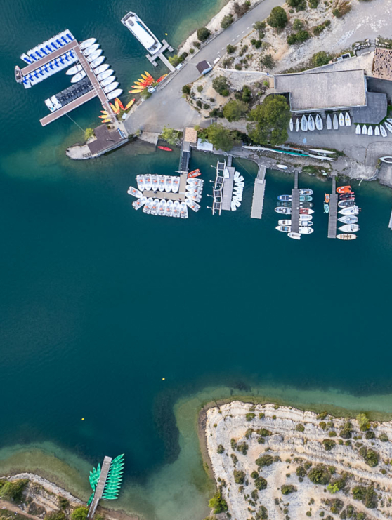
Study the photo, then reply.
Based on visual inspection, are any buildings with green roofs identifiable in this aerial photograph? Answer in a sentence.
No, no building with a green roof can be seen from above.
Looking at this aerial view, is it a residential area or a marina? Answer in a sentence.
What you see here is a marina.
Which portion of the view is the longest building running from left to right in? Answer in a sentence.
Look in the top right portion of the view to spot the longest building running from left to right.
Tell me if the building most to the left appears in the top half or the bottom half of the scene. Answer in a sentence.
It is in the top half that the building most to the left appears.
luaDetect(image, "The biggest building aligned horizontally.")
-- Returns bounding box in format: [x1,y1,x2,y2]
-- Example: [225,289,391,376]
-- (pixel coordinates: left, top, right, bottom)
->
[274,70,366,115]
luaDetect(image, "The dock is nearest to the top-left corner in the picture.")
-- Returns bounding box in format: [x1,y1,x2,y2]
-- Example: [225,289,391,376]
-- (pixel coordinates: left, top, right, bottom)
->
[21,40,117,126]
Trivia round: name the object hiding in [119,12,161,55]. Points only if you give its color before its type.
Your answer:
white boat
